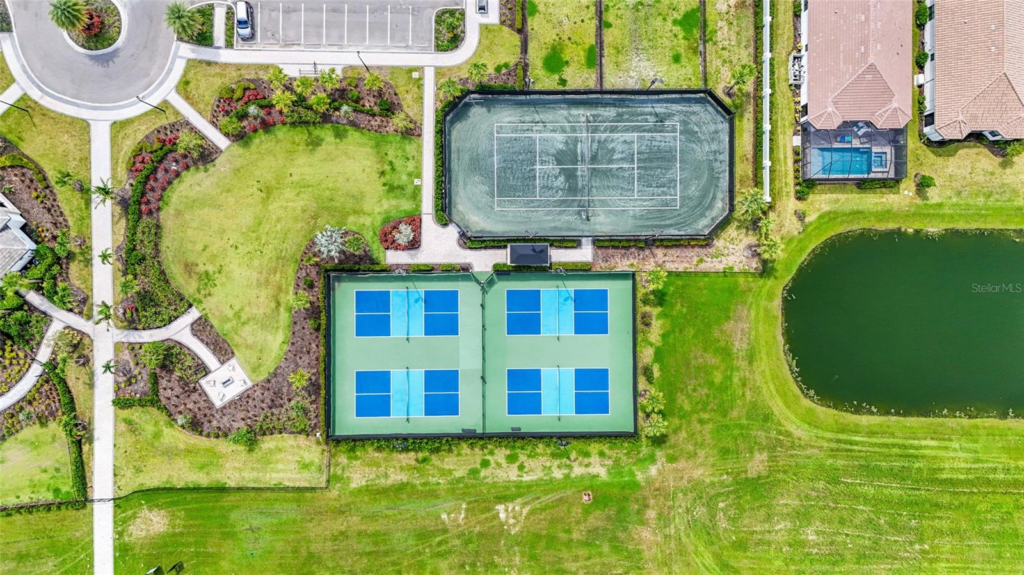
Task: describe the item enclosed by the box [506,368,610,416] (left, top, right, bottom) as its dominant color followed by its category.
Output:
blue sports court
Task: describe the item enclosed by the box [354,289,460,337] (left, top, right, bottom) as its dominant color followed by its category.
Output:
blue sports court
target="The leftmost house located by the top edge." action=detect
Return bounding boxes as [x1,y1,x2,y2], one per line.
[801,0,912,130]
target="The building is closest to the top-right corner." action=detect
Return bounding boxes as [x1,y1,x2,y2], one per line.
[924,0,1024,140]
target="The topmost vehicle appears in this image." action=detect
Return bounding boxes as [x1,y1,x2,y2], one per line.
[234,1,253,38]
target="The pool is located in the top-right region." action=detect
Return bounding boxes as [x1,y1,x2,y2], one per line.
[801,122,894,177]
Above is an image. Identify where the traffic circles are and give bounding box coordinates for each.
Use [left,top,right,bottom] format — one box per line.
[5,0,180,110]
